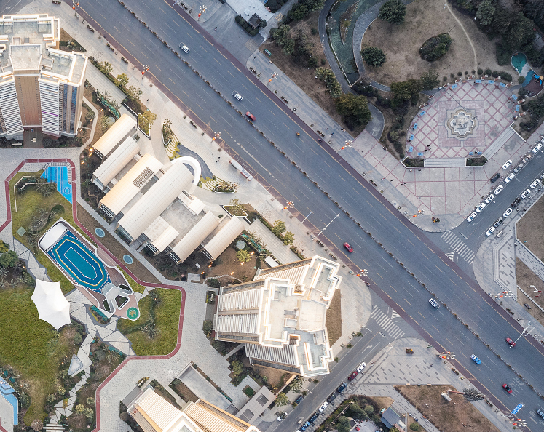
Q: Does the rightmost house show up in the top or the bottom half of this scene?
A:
bottom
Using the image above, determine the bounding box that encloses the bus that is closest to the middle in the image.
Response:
[227,155,256,182]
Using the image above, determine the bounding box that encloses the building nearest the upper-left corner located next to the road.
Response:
[0,13,89,139]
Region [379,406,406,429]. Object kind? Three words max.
house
